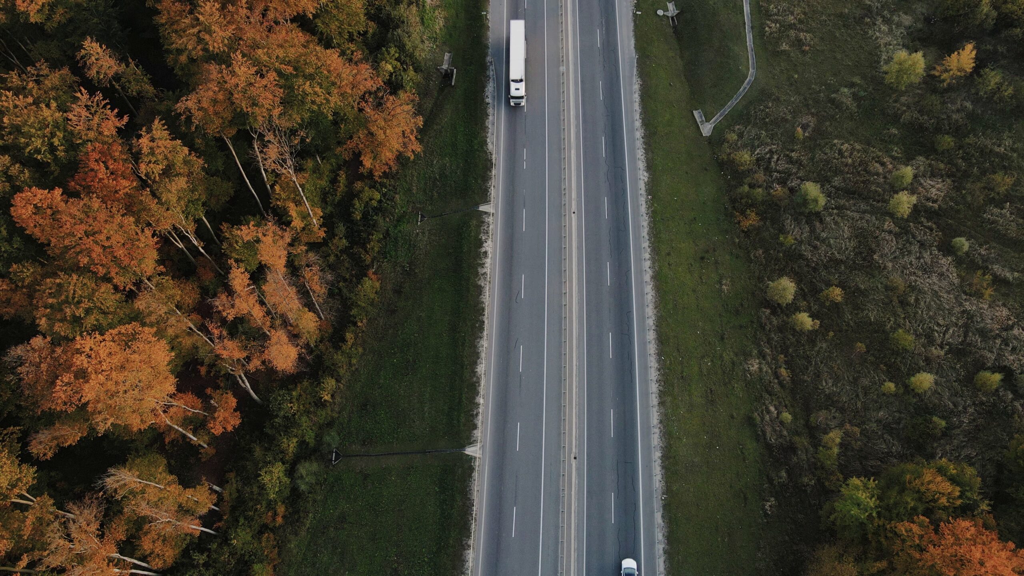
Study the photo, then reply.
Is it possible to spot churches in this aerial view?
No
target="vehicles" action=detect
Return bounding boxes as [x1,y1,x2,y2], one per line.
[509,20,527,107]
[621,558,638,576]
